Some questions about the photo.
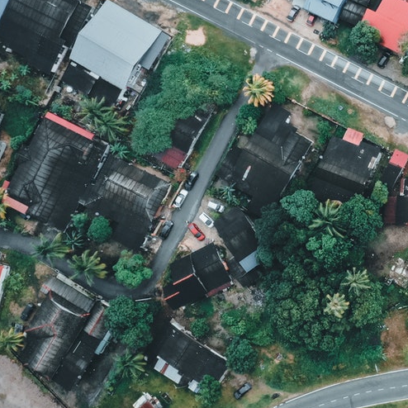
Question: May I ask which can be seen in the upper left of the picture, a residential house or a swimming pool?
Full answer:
The one visible in the upper left of the picture is a residential house.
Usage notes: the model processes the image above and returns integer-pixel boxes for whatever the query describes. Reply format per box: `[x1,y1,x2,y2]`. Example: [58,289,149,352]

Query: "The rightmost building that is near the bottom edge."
[152,322,231,394]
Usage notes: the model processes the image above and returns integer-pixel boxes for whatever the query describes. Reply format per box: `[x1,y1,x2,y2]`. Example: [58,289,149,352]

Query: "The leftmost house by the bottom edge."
[24,278,112,391]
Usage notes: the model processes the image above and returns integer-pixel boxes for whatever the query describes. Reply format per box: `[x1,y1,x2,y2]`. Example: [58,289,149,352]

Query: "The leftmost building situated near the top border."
[0,0,96,74]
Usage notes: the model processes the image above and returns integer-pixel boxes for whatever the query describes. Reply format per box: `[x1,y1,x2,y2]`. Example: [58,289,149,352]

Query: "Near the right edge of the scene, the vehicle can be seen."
[378,51,391,69]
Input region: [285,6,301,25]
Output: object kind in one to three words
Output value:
vehicle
